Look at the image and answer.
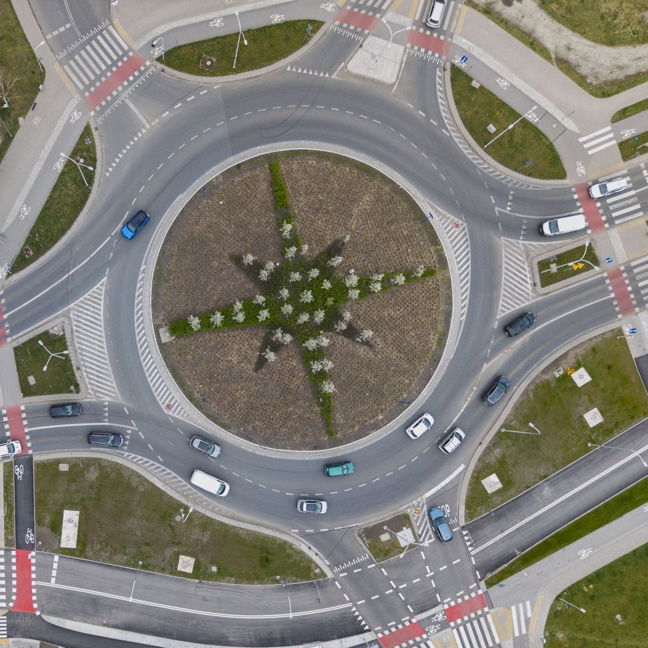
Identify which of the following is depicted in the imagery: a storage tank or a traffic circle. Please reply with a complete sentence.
This aerial view contains a traffic circle.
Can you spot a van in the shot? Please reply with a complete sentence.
Yes, there's a van here.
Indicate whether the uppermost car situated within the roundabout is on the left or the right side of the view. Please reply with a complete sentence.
The uppermost car situated within the roundabout sits on the left side.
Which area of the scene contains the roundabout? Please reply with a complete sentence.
The roundabout is in the center part of the image.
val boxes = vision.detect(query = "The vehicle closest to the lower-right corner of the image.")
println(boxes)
[427,506,453,543]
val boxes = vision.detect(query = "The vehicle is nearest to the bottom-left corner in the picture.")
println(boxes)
[0,440,23,457]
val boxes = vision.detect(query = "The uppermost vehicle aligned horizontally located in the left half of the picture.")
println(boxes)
[48,401,83,417]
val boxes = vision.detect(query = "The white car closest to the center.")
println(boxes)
[403,411,433,441]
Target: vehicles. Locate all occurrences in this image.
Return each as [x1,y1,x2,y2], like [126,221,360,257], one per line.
[295,499,328,515]
[427,506,453,543]
[122,211,149,241]
[324,459,354,476]
[587,178,627,200]
[539,215,588,237]
[87,431,123,449]
[436,425,465,456]
[501,311,536,337]
[190,467,231,498]
[0,440,23,457]
[403,411,433,441]
[479,373,511,407]
[48,401,83,417]
[188,434,222,457]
